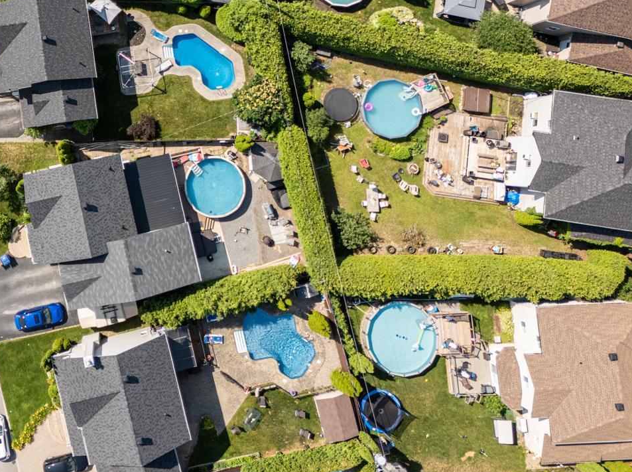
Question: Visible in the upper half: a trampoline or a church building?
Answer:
trampoline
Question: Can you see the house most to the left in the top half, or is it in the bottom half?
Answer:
top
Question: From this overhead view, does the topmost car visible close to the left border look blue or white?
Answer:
blue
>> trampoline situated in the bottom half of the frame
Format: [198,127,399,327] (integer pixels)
[361,391,408,439]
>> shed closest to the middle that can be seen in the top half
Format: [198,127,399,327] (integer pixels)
[246,143,285,183]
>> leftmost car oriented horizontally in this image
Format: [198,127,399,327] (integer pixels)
[15,302,64,329]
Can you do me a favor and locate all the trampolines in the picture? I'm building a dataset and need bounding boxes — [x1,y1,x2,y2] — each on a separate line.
[361,391,408,439]
[321,87,358,123]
